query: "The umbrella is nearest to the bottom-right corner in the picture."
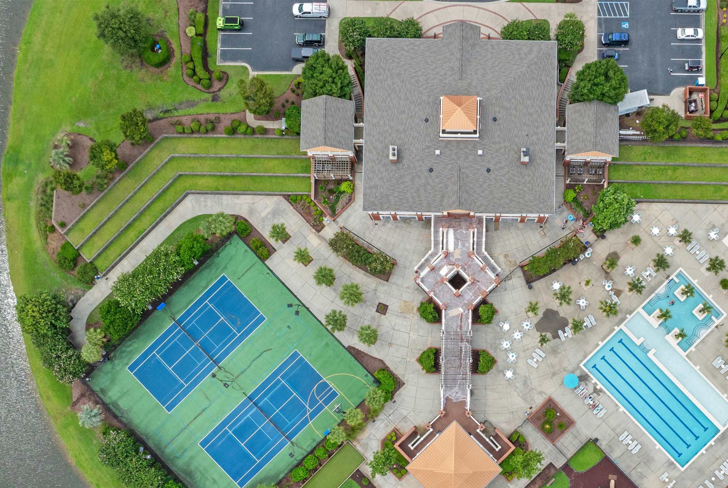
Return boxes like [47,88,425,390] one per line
[564,374,578,389]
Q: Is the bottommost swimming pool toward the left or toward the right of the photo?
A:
right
